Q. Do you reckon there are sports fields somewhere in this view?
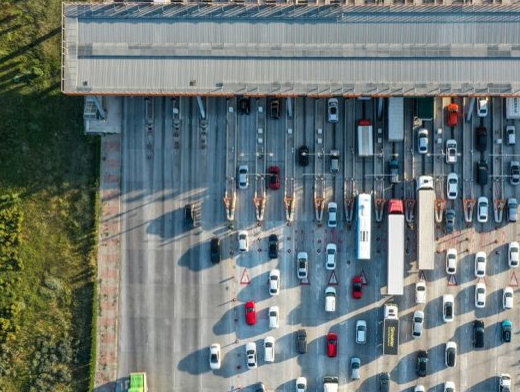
No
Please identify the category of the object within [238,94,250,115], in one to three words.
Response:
vehicle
